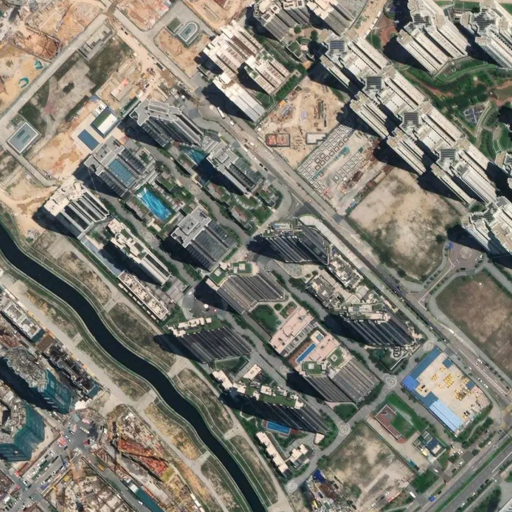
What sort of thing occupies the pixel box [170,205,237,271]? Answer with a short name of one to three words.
building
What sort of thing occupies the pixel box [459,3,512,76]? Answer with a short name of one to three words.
building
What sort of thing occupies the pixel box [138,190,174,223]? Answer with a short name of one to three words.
swimming pool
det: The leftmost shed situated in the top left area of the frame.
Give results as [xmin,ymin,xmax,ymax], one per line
[8,124,42,154]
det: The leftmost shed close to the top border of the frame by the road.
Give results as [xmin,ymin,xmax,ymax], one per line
[78,24,112,61]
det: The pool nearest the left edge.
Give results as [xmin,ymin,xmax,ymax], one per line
[74,126,102,153]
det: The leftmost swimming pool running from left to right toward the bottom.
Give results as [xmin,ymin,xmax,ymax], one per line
[263,418,294,437]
